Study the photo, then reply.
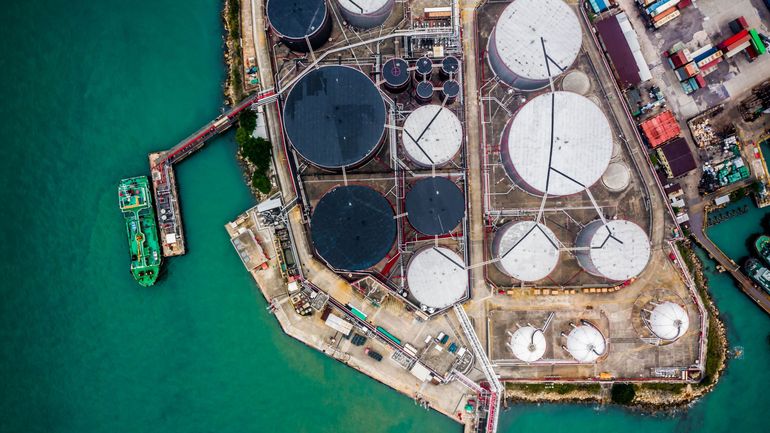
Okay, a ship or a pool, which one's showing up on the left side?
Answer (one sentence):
You can see a ship on the left side.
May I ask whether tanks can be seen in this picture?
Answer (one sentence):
Yes, this view includes a tank.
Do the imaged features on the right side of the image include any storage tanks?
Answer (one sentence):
Yes, a storage tank appears on the right side of the image.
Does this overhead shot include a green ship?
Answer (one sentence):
Yes, there's a green ship down there.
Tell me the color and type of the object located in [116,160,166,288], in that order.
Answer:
green ship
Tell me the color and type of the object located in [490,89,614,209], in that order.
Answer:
white storage tank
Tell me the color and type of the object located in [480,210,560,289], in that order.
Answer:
white storage tank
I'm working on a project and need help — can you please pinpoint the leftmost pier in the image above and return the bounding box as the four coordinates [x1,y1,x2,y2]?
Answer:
[147,151,186,258]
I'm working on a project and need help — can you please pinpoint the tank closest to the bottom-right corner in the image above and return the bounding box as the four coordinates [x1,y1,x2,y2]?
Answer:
[566,207,652,288]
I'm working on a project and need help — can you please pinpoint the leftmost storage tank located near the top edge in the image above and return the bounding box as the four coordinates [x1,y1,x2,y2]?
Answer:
[263,0,338,60]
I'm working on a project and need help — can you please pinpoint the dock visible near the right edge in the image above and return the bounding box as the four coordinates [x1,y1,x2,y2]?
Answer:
[696,241,770,315]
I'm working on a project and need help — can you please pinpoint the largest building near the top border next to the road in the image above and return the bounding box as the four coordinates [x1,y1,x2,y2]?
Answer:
[594,15,641,91]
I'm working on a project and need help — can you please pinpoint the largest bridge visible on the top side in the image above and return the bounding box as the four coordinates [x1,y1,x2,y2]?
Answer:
[153,101,277,167]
